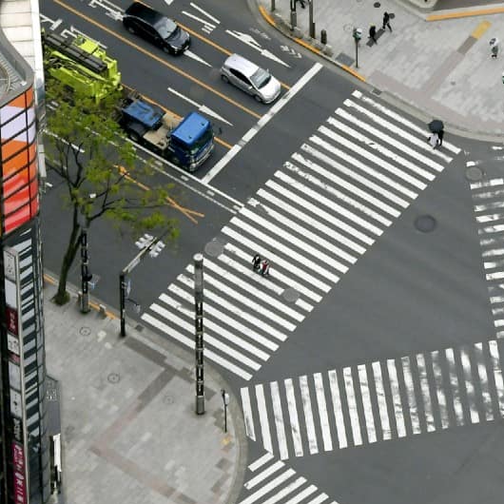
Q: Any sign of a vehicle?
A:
Yes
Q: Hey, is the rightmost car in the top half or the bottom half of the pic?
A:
top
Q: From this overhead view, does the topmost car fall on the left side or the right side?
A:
left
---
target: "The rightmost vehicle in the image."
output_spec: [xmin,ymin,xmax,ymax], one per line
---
[219,55,283,105]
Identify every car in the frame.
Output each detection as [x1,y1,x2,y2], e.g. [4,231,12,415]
[219,55,283,105]
[118,0,195,56]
